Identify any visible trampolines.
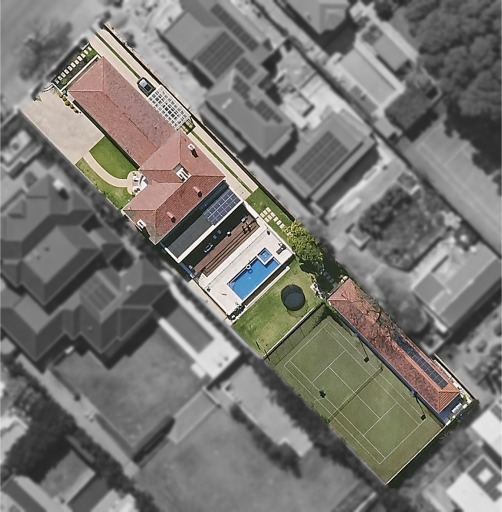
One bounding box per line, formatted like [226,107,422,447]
[282,287,306,311]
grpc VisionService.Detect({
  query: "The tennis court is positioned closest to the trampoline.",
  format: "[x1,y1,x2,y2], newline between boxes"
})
[266,304,446,483]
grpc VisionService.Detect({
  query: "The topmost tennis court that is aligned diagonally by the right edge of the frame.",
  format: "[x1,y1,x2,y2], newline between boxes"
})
[407,124,502,249]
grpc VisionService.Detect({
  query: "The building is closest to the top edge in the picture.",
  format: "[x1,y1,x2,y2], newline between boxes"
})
[287,0,351,36]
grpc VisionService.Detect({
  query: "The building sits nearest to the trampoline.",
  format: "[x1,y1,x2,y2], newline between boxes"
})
[326,278,460,415]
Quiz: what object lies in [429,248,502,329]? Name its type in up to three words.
house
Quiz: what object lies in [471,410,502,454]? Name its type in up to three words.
house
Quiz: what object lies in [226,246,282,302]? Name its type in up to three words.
swimming pool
